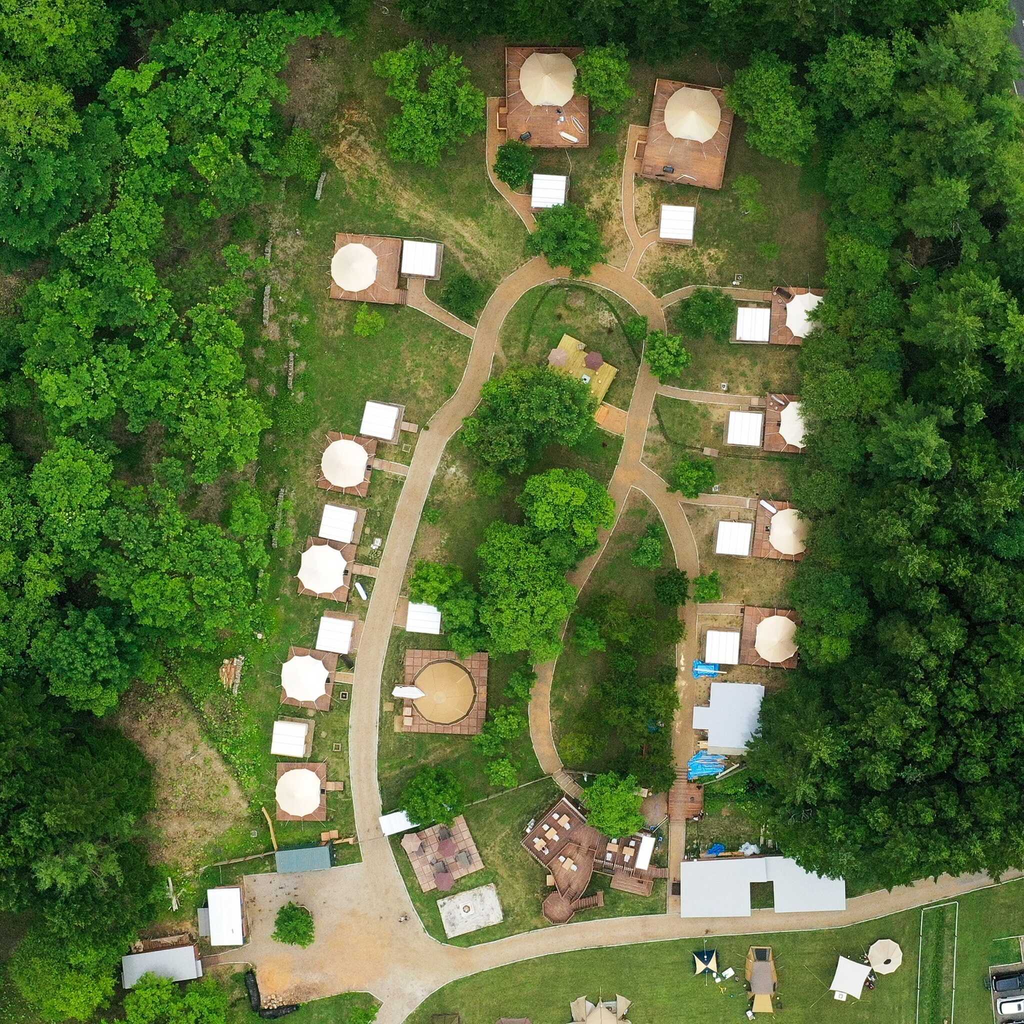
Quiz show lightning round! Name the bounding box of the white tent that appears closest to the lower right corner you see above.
[868,939,902,974]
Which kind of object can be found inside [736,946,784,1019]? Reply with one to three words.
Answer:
tent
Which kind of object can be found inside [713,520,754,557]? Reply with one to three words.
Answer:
shed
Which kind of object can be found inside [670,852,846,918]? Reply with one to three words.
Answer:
building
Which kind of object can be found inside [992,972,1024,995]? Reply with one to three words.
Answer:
car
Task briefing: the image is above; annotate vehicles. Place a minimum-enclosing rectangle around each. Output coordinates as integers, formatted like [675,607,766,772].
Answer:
[992,972,1024,995]
[1002,1018,1024,1024]
[996,993,1024,1015]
